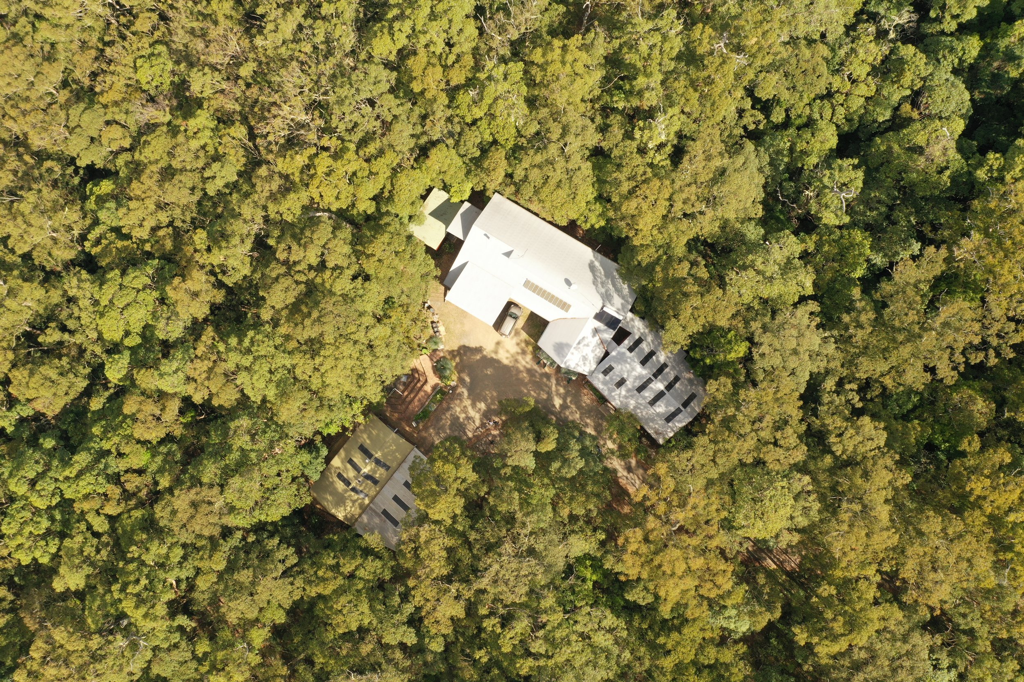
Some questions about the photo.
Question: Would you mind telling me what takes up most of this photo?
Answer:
trees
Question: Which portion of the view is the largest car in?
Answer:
center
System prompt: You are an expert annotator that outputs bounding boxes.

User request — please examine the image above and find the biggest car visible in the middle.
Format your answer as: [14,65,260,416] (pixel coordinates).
[498,304,521,340]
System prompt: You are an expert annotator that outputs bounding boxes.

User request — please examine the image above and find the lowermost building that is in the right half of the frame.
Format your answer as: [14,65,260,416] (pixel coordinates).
[587,311,711,445]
